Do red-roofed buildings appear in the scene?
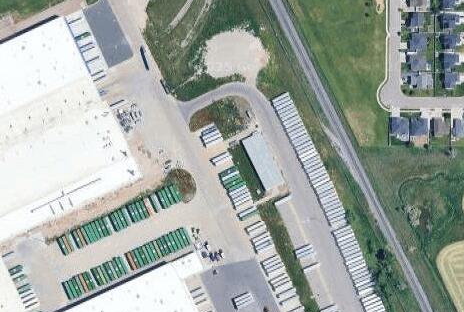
No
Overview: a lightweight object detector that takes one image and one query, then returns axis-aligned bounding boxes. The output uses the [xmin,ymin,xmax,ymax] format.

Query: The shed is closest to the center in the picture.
[241,129,284,193]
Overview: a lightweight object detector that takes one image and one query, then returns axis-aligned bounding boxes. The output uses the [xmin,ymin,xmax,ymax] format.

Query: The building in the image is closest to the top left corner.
[0,16,142,243]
